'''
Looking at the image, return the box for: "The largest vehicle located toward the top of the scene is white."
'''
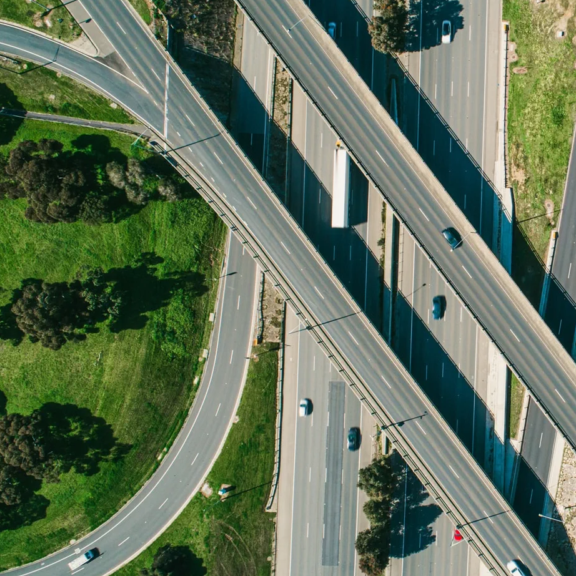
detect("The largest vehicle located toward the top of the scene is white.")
[329,135,348,225]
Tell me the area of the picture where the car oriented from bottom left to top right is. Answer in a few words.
bottom left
